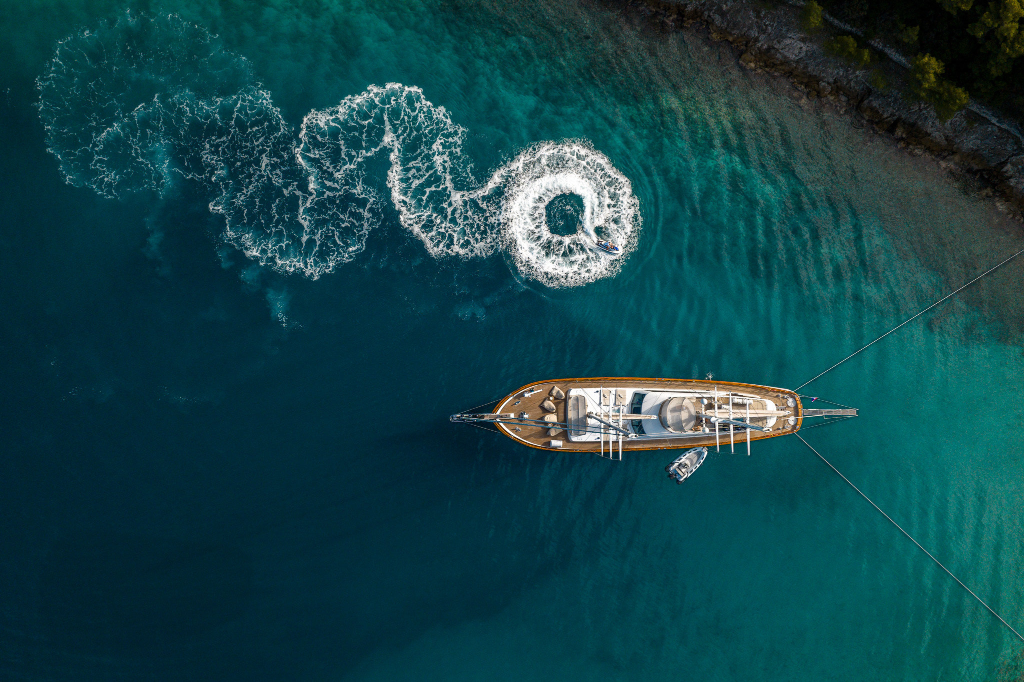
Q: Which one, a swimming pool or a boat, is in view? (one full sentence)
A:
The one in the frame is a boat.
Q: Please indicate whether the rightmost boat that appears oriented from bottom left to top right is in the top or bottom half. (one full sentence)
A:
The rightmost boat that appears oriented from bottom left to top right sits in the bottom half of the picture.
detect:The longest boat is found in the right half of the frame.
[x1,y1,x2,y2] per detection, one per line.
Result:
[450,377,858,461]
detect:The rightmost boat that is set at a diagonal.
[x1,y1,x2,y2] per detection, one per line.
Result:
[666,448,716,486]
